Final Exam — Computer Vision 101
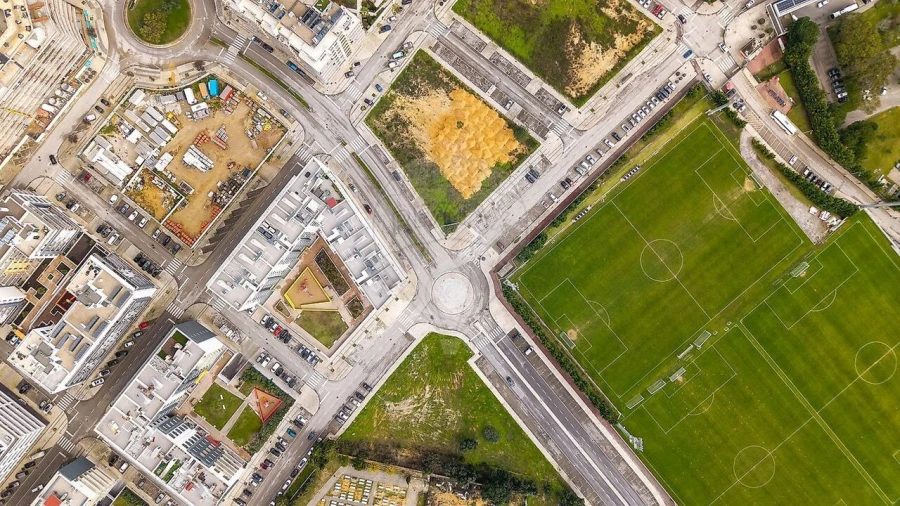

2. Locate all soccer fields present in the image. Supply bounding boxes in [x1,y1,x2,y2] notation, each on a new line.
[510,112,813,408]
[735,214,900,506]
[617,320,889,506]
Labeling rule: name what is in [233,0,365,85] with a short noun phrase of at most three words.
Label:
building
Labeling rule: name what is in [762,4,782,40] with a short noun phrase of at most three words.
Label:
building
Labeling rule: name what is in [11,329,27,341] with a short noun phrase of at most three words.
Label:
vehicle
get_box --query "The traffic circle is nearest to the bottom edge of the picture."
[417,257,489,329]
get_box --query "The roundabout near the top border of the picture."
[107,0,211,65]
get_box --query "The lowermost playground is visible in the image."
[253,387,283,423]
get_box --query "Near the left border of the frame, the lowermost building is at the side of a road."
[28,459,112,506]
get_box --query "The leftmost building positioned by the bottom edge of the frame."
[0,389,48,494]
